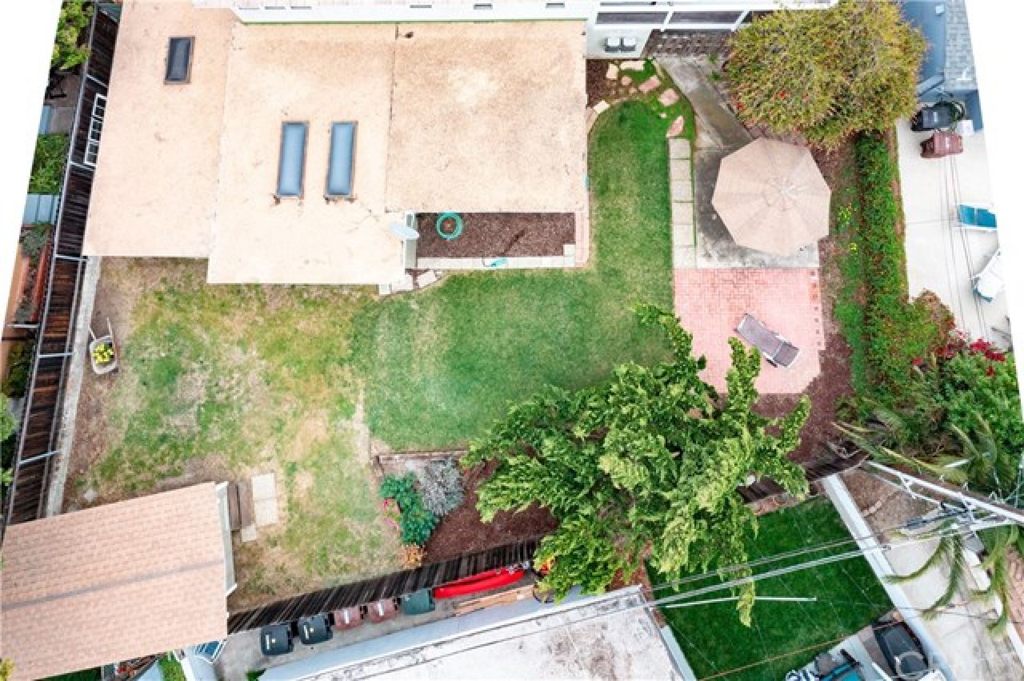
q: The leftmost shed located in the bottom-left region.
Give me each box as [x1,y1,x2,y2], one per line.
[0,482,237,681]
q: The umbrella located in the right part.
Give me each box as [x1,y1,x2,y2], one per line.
[712,139,830,257]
